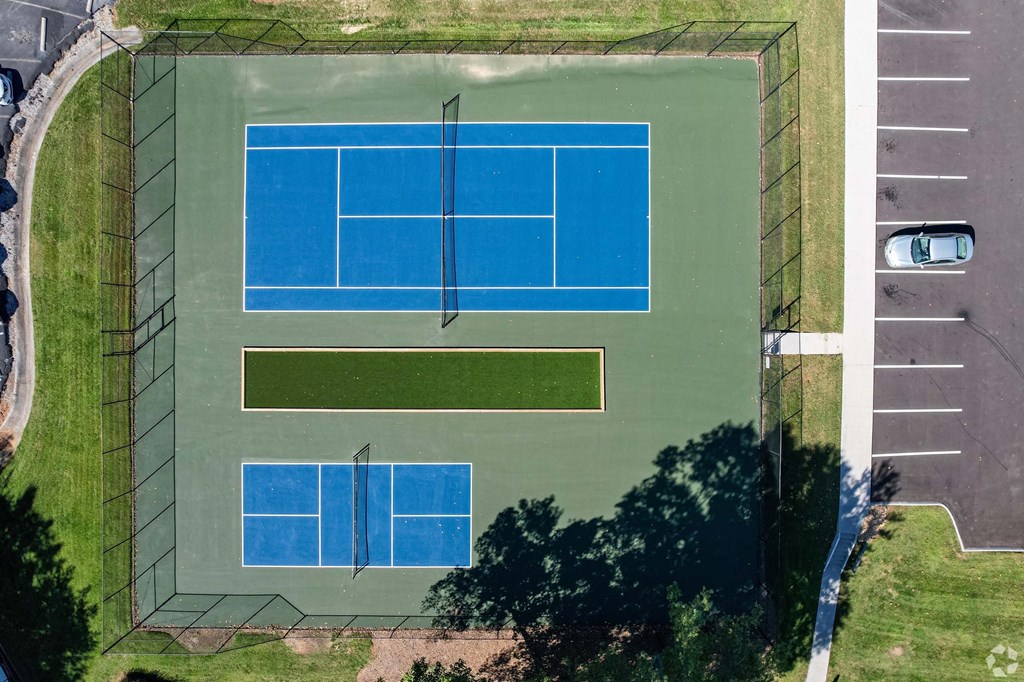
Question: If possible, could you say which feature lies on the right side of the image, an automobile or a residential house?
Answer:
automobile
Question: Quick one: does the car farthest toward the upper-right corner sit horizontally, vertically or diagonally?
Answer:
horizontally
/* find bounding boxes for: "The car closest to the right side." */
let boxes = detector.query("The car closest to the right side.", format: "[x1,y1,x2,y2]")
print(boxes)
[884,230,974,271]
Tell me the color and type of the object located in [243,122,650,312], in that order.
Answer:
blue tennis court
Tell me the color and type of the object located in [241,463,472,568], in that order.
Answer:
blue sports court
